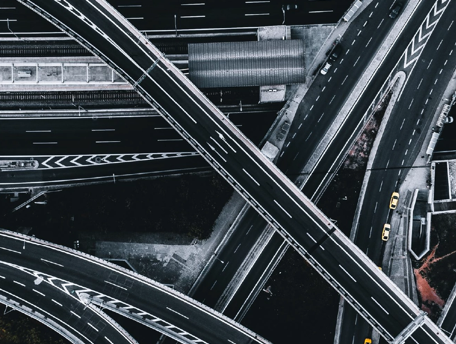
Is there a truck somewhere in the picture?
No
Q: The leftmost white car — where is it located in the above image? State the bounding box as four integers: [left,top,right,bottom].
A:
[320,60,333,76]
